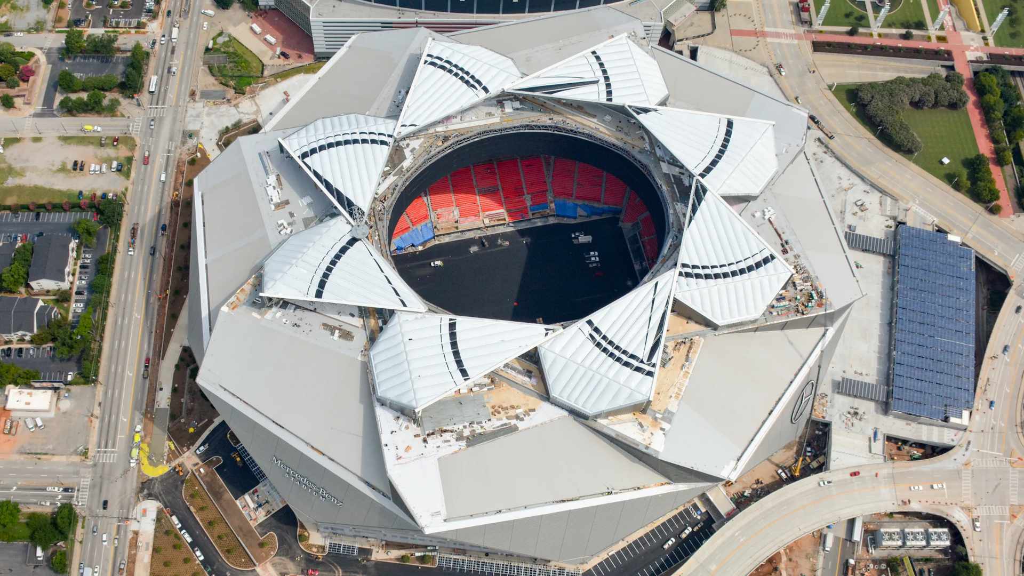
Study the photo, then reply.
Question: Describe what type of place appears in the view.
sports ground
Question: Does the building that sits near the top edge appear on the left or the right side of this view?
right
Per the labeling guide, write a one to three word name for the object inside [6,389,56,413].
building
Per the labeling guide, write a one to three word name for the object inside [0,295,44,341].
house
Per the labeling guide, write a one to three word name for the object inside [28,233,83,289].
house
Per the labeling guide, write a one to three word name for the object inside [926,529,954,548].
cooling tower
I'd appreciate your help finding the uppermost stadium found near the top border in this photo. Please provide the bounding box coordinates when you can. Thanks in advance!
[279,0,688,43]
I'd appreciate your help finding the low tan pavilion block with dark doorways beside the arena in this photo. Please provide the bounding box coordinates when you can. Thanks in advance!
[658,4,716,65]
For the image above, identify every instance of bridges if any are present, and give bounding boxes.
[670,468,852,576]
